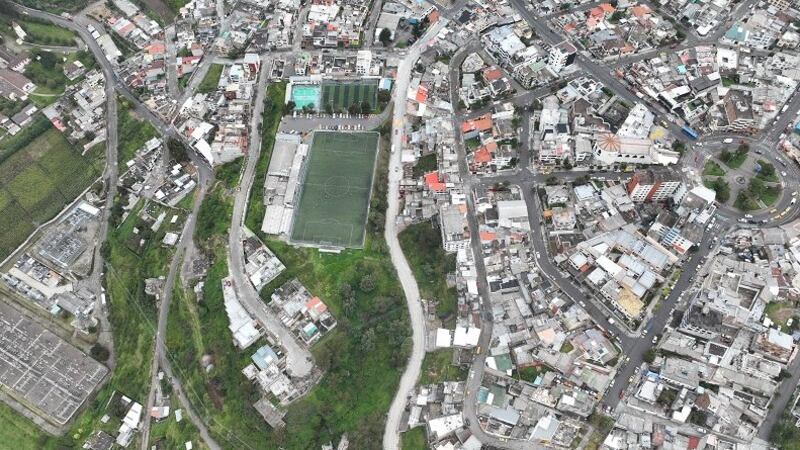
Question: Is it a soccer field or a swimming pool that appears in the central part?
soccer field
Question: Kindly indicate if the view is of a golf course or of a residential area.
residential area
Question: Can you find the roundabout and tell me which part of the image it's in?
right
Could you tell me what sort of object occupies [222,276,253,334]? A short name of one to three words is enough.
house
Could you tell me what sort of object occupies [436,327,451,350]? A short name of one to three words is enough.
house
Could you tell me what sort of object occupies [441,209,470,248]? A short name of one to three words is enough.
building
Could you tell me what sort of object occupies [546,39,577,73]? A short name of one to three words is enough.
building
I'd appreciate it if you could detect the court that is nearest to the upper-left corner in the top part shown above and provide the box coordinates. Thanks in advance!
[292,84,321,110]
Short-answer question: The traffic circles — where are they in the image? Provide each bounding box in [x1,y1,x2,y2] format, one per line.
[685,137,800,227]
